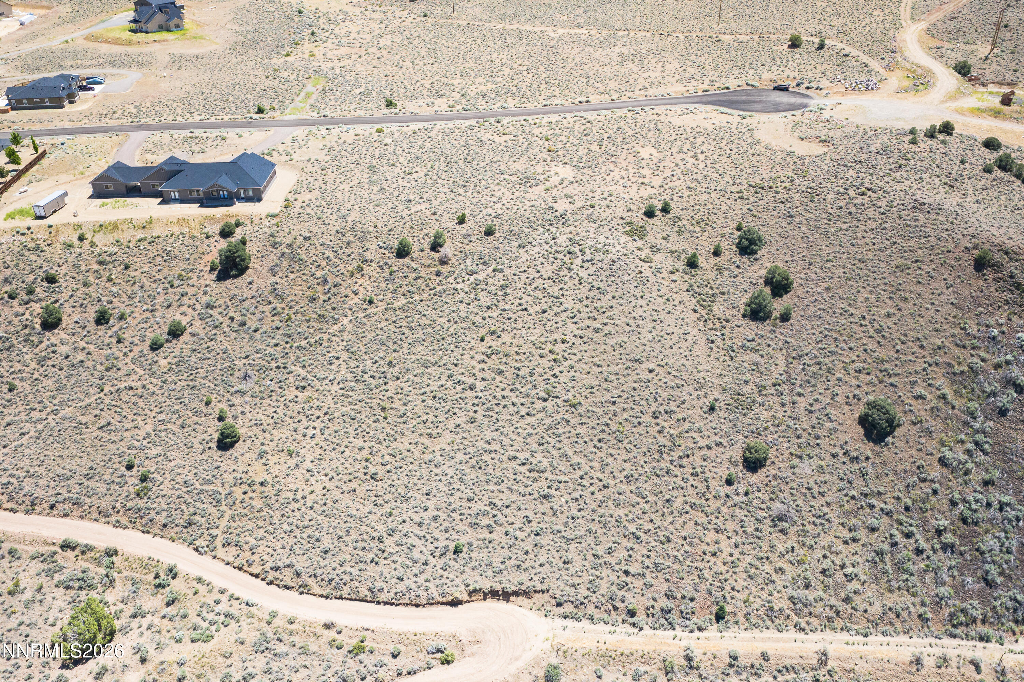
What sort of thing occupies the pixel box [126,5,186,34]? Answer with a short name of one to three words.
house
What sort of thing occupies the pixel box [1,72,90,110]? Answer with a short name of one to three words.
house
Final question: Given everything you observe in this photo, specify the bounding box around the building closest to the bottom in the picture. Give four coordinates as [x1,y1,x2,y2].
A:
[88,152,277,205]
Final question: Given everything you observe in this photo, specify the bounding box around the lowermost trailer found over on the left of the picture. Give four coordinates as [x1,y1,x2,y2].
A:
[33,188,79,216]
